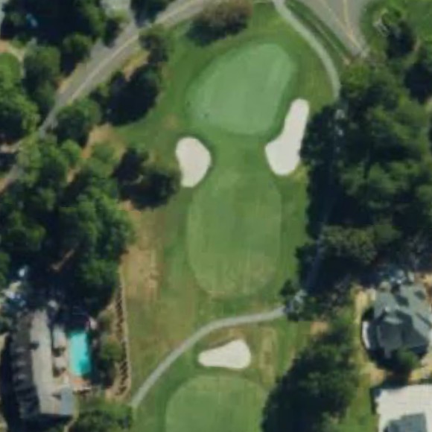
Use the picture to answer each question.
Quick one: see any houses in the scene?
Yes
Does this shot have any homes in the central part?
No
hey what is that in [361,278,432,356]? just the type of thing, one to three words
house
